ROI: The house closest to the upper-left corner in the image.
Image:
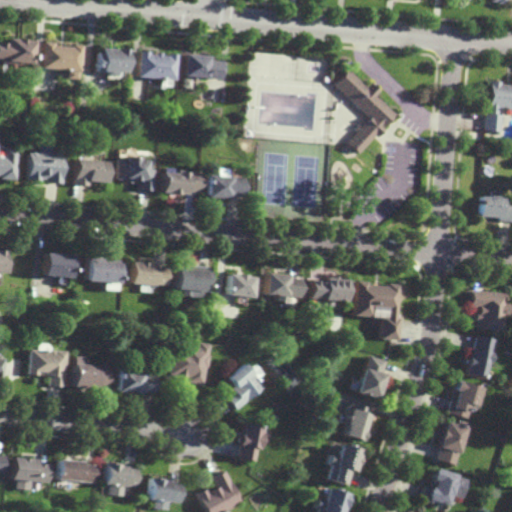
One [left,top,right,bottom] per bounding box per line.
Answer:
[0,37,41,66]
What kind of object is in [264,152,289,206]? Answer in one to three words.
tennis court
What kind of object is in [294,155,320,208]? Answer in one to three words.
tennis court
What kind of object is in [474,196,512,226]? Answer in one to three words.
house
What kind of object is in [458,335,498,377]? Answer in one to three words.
house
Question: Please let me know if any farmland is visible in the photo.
No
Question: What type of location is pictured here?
residential area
